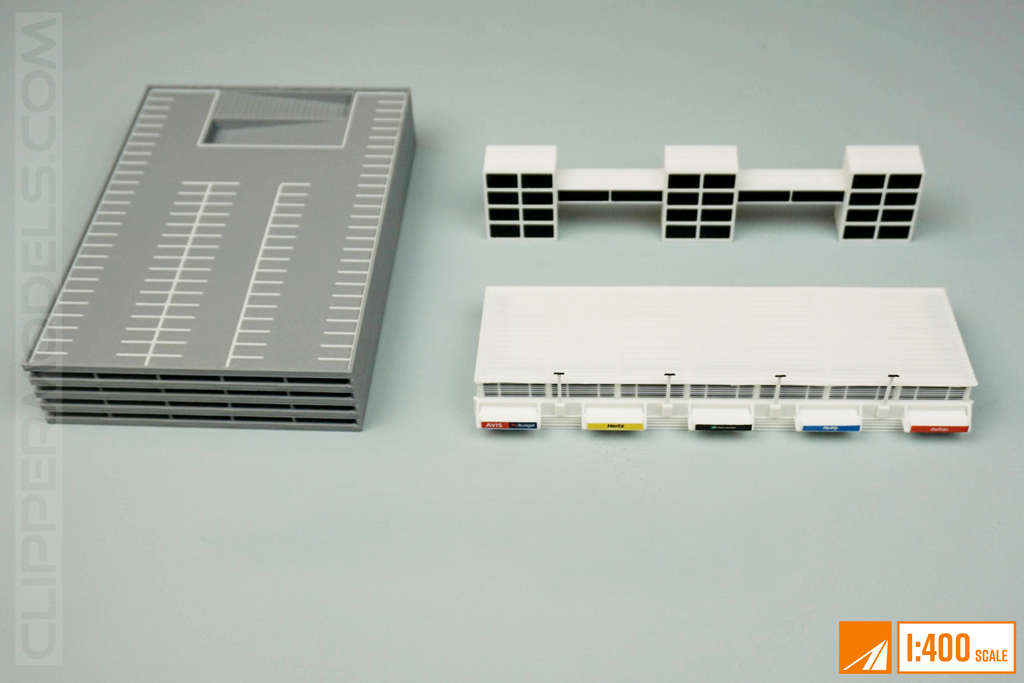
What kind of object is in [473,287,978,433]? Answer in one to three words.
building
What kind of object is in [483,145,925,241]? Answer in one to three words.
building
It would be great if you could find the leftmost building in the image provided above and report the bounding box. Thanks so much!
[23,85,416,430]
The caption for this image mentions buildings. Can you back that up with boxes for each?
[473,287,978,433]
[23,85,416,430]
[483,145,925,241]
